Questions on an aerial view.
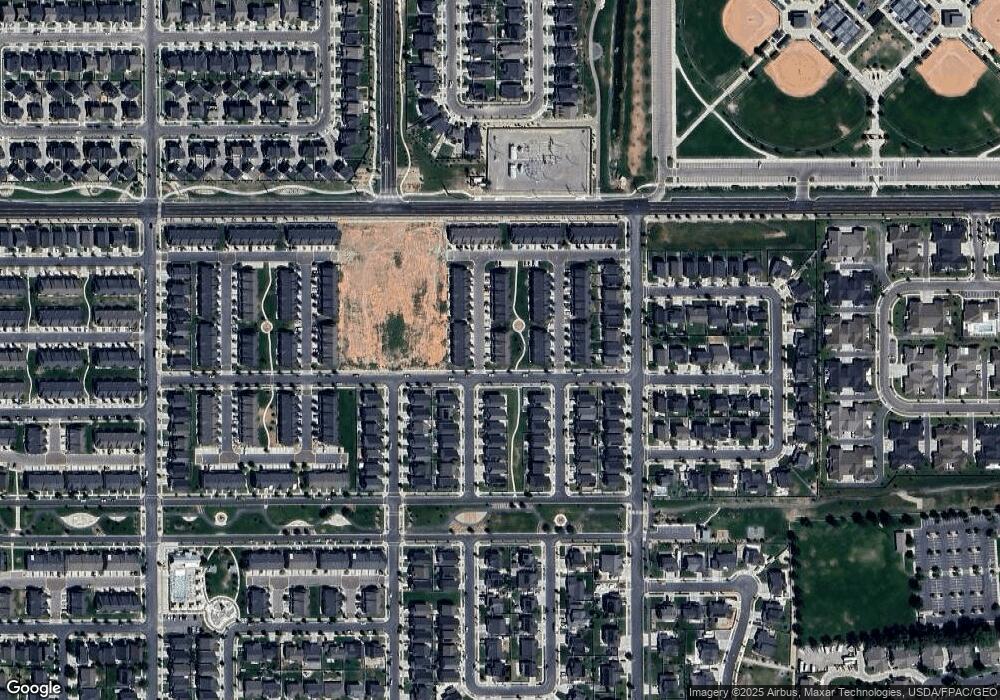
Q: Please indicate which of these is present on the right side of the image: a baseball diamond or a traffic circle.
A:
baseball diamond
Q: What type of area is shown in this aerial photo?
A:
residential area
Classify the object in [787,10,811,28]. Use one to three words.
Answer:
building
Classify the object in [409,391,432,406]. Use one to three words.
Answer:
house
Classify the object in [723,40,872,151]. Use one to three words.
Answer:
baseball field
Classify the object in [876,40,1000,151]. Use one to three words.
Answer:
baseball field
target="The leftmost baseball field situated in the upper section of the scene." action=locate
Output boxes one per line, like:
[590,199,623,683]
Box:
[679,0,780,92]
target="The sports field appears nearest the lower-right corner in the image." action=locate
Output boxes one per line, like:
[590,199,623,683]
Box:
[796,522,917,640]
